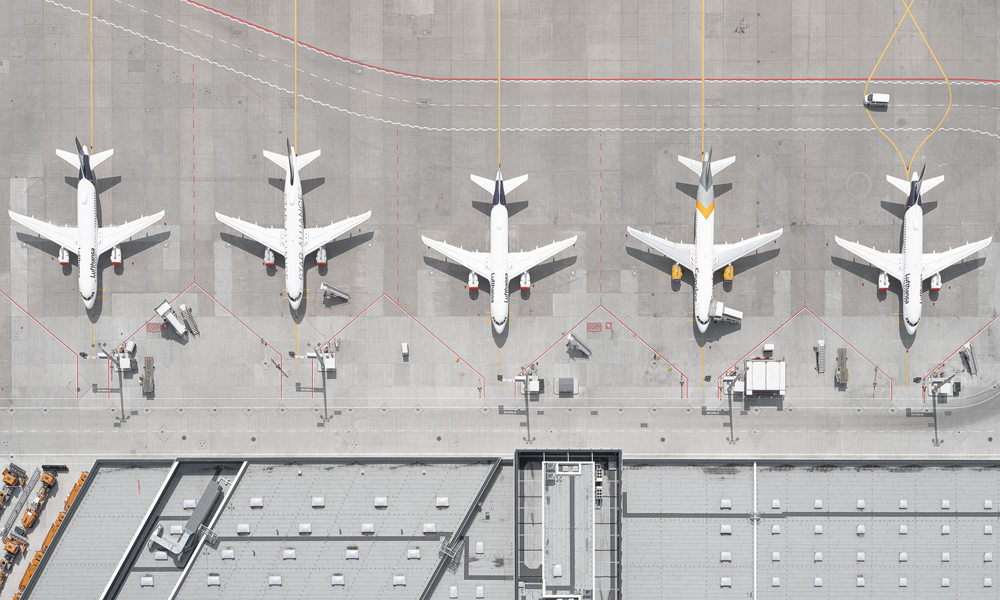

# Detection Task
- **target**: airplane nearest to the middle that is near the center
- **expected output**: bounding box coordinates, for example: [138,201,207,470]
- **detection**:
[421,162,578,334]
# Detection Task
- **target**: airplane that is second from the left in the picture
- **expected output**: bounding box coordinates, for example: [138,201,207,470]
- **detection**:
[215,140,373,310]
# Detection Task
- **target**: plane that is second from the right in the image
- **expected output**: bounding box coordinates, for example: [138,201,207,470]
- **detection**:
[624,143,782,333]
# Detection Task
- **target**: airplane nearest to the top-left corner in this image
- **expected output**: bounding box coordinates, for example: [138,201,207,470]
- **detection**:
[7,138,165,309]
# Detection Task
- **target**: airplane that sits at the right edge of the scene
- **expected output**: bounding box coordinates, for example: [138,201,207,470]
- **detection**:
[835,164,992,335]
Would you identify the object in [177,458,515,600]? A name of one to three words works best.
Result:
building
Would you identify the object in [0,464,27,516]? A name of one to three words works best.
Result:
vehicle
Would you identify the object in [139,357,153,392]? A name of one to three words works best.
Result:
work vehicle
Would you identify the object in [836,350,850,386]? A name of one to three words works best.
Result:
vehicle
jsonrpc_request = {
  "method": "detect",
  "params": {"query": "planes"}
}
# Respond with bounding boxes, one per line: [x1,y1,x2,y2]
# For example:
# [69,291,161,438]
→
[835,164,992,335]
[421,162,578,334]
[215,140,373,310]
[624,143,782,333]
[7,138,165,309]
